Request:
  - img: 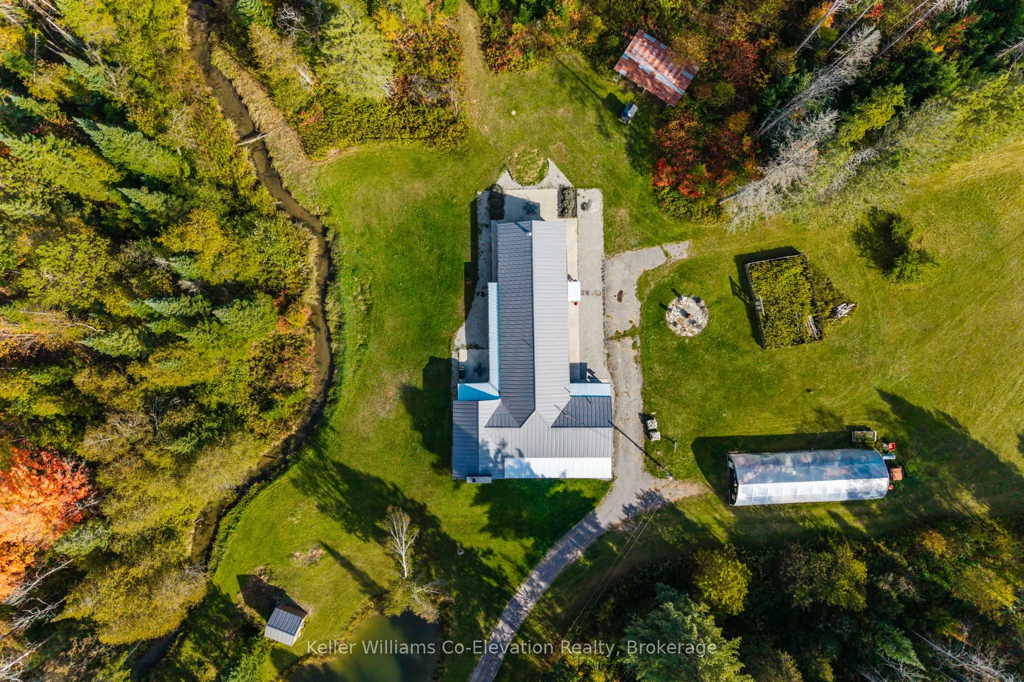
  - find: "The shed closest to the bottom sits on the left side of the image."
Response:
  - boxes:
[259,599,309,653]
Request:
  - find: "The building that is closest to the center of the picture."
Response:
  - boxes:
[452,218,612,486]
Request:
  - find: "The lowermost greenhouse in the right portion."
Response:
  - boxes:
[729,448,889,508]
